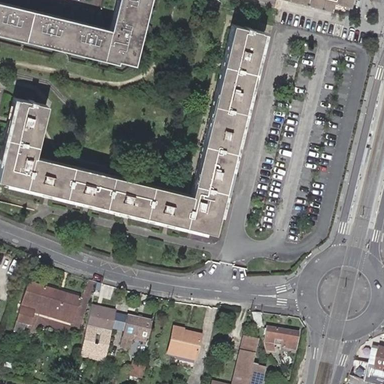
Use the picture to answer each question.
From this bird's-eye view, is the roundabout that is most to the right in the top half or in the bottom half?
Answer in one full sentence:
The roundabout that is most to the right sits in the bottom half of the picture.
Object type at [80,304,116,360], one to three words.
house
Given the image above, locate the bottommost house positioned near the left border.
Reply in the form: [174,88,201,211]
[15,280,96,332]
